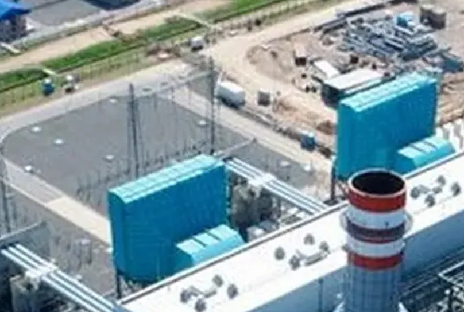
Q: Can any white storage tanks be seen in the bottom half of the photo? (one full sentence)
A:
No, the scene shows no white storage tank in the bottom half of the photo.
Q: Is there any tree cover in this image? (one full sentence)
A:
No, no tree cover is visible.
